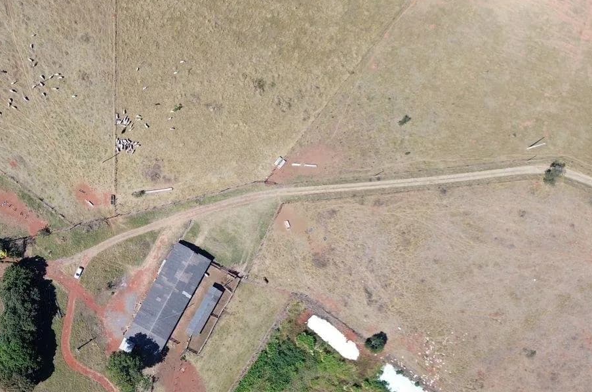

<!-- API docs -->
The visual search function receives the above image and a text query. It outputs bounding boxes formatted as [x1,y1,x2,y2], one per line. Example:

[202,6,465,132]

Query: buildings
[120,244,213,362]
[185,286,224,335]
